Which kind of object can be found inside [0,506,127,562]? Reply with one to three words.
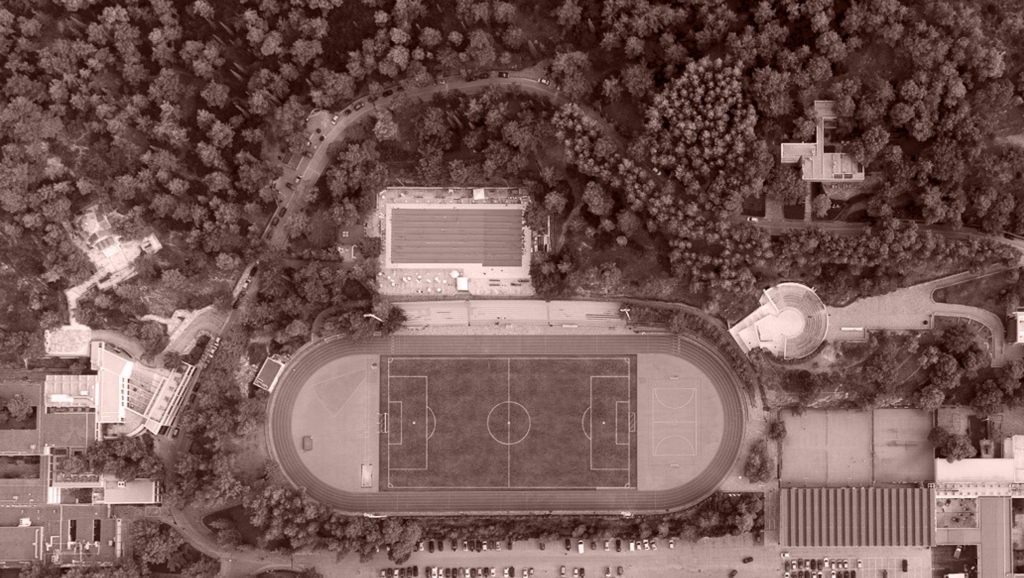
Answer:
building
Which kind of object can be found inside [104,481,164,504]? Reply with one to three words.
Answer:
building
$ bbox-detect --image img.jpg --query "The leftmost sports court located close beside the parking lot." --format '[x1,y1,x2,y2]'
[637,354,723,492]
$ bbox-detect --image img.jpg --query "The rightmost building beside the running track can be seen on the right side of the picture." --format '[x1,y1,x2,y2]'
[779,484,935,547]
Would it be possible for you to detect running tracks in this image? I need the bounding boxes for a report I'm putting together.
[266,329,749,518]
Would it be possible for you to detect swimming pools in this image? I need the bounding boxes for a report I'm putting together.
[386,204,531,278]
